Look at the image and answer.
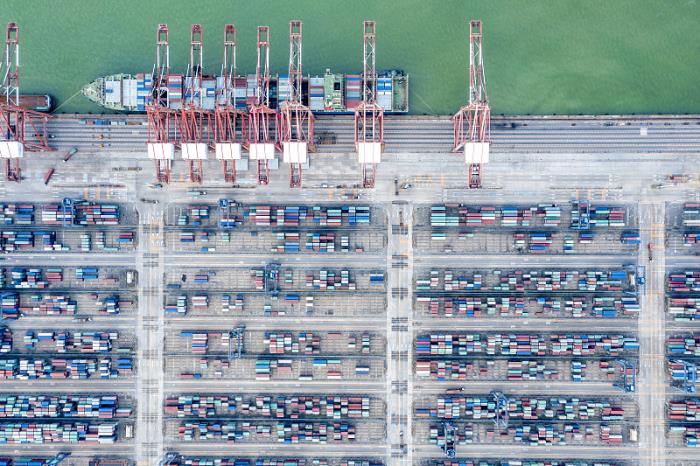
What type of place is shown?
port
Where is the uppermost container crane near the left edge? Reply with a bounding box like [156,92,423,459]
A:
[0,18,61,182]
